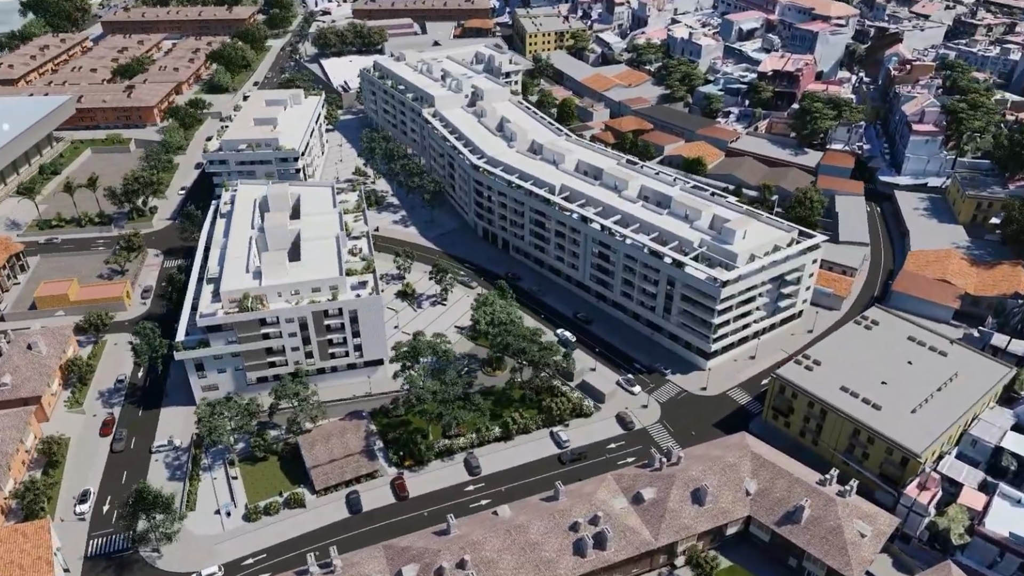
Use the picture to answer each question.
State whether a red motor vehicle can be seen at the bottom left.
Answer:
Yes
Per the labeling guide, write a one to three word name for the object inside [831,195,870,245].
shed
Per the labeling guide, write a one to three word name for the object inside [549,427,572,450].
car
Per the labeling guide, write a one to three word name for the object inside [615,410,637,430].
car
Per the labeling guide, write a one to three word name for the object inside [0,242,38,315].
house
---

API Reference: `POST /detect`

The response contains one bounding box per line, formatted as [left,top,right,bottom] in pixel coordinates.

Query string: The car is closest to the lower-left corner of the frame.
[74,488,95,515]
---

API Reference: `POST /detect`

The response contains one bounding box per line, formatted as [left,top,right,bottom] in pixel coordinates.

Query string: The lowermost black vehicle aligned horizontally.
[559,449,588,464]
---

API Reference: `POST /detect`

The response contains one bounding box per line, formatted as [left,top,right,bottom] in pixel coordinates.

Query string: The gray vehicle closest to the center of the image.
[459,275,477,288]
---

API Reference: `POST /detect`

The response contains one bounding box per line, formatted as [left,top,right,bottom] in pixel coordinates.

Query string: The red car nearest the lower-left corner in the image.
[97,415,118,437]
